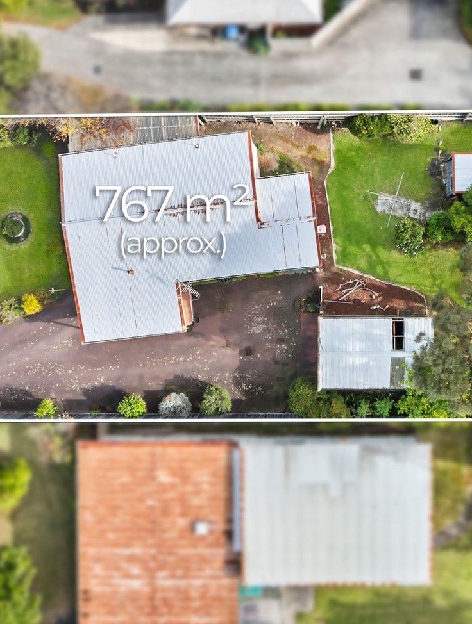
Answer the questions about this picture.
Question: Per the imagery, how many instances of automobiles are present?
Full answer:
The picture shows no automobiles.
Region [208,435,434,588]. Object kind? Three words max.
house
